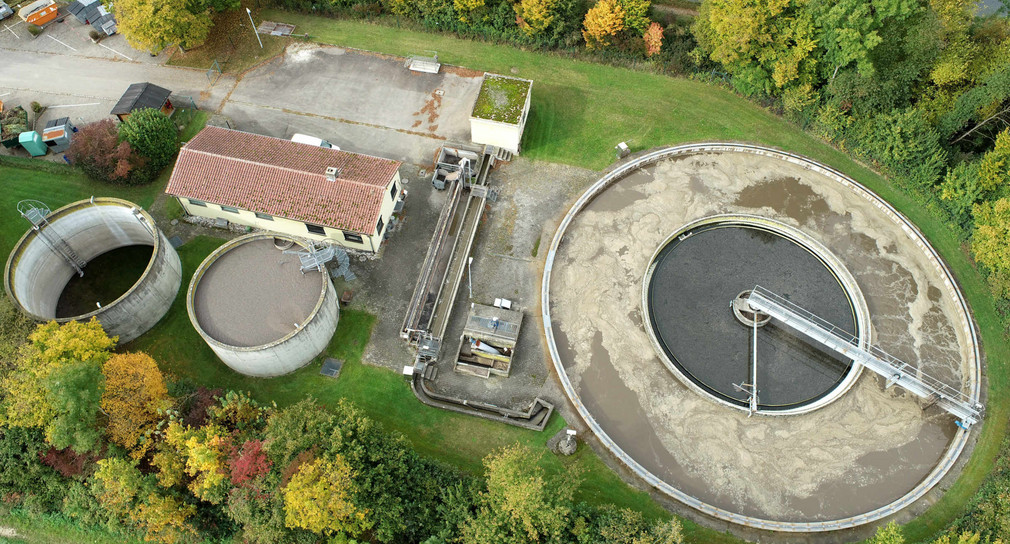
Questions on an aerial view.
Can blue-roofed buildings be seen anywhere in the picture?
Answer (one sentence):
No, there isn't any blue-roofed building down there.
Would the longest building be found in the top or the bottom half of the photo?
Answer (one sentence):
You can find the longest building in the top half.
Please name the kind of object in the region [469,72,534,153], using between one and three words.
shed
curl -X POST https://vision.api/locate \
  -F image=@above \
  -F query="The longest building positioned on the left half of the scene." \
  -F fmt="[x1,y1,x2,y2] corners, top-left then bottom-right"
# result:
[165,124,401,253]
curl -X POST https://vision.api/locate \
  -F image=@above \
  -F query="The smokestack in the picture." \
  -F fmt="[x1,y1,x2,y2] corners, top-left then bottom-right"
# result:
[321,168,339,183]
